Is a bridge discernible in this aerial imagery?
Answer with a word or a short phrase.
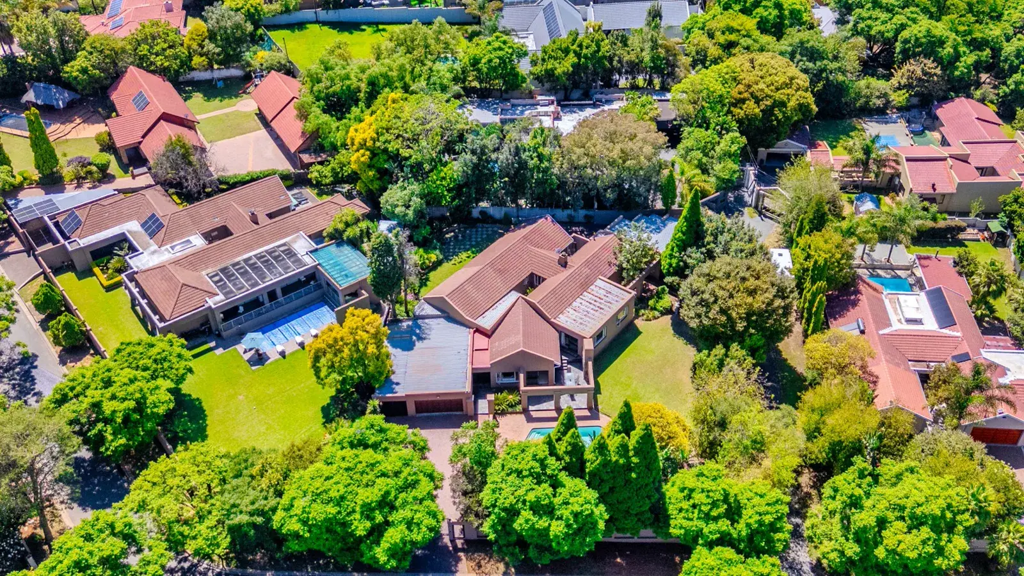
No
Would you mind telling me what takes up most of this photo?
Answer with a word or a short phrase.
trees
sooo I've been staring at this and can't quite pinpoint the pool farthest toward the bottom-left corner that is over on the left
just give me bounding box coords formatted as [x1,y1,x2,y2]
[255,300,335,355]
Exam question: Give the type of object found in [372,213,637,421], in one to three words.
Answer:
house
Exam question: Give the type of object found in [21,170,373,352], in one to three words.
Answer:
house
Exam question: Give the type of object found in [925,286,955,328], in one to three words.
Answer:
solar panel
